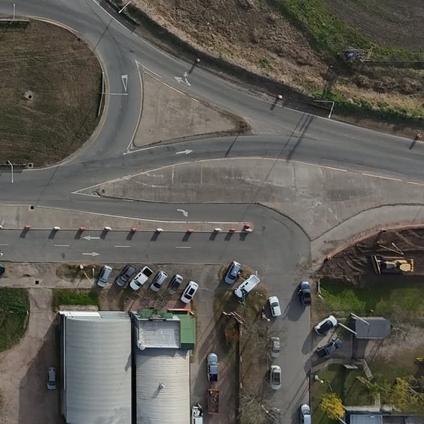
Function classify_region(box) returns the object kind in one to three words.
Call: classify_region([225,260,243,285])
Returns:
car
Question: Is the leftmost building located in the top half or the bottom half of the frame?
bottom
